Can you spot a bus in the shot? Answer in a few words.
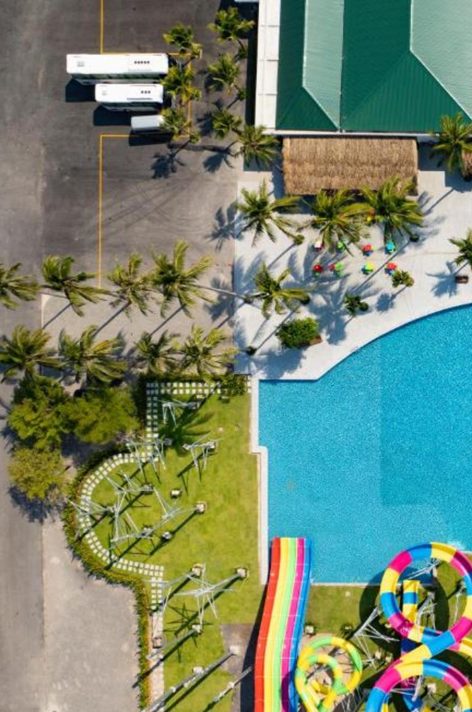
Yes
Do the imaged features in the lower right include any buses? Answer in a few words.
No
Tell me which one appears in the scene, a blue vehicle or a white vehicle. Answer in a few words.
white vehicle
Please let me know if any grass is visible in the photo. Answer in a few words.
Yes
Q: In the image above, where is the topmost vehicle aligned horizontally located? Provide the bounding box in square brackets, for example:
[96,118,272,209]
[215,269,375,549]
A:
[67,51,181,85]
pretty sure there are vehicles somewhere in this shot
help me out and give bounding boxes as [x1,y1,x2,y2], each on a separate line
[67,51,181,85]
[133,116,178,137]
[95,82,176,114]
